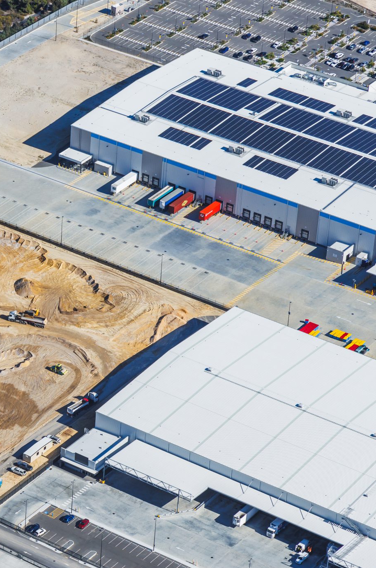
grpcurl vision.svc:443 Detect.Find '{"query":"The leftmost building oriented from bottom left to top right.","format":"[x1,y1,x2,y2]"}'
[24,437,52,463]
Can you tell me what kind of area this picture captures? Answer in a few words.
industrial area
